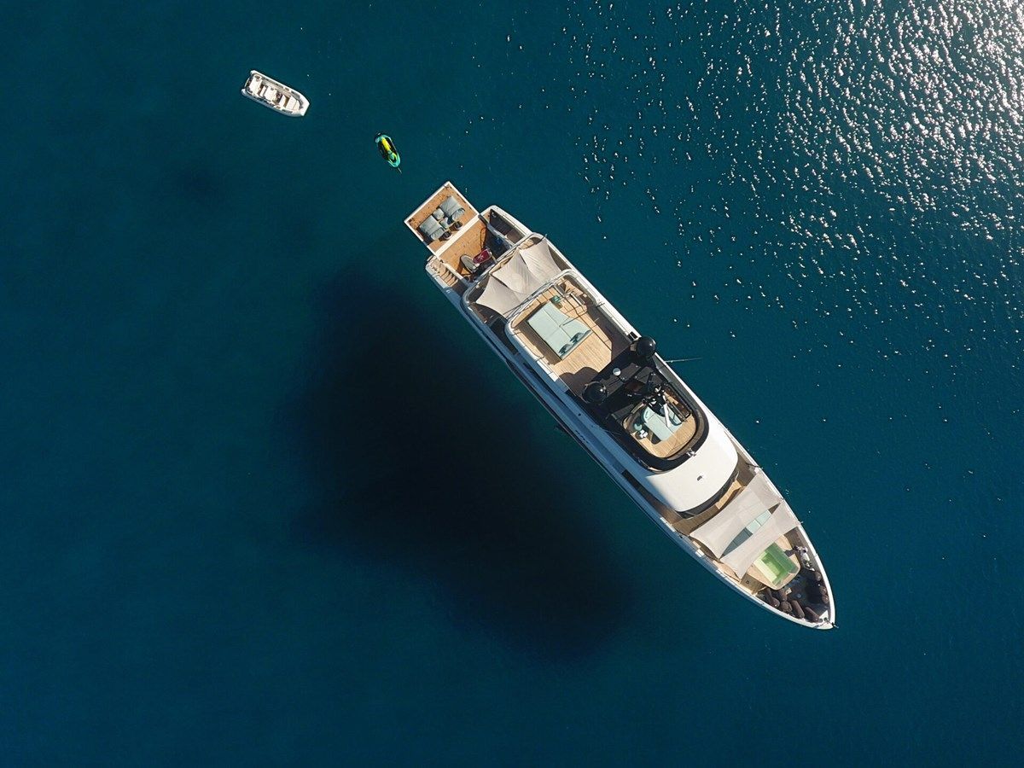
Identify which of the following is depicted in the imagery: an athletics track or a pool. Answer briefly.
pool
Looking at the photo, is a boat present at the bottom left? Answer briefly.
No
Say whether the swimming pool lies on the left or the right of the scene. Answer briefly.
right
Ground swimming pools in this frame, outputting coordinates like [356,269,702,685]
[747,537,801,590]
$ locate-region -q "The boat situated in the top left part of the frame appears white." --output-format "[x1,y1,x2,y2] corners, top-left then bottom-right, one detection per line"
[239,71,308,116]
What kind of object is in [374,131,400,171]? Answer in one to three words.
boat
